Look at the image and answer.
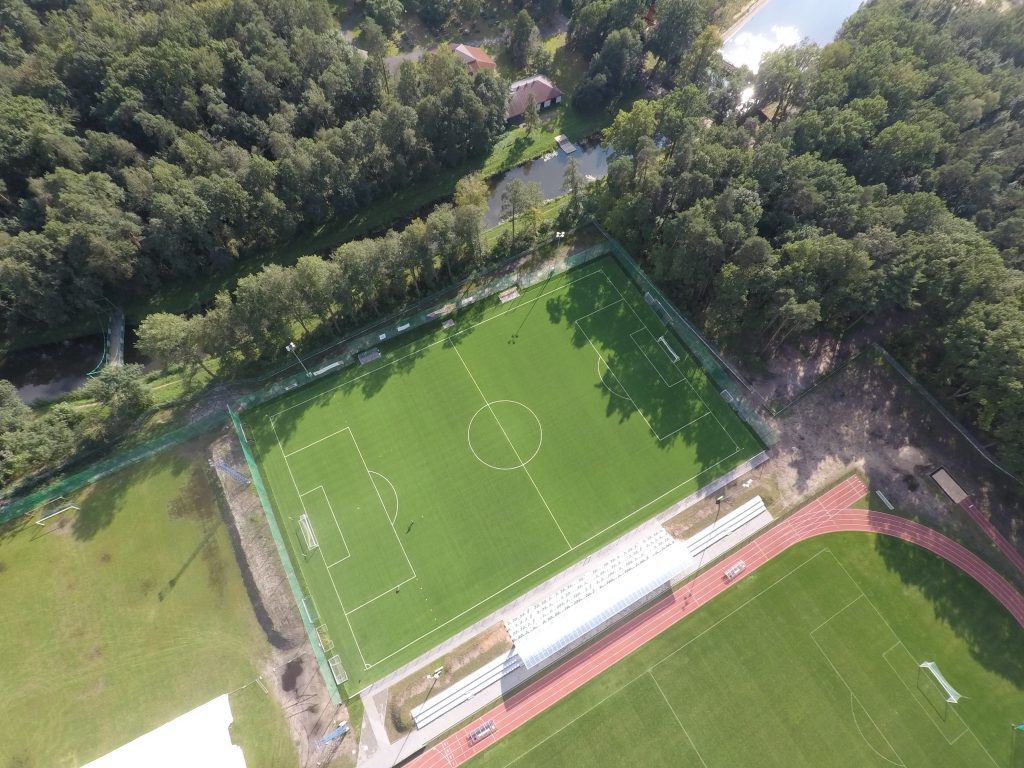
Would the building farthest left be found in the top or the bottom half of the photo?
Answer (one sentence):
The bottom half of the photo is where the building farthest left is.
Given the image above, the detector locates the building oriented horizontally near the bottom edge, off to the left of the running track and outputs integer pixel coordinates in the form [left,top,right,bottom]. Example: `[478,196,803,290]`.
[79,698,244,768]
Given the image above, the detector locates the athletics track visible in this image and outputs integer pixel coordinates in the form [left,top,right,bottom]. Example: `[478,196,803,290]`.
[406,475,869,768]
